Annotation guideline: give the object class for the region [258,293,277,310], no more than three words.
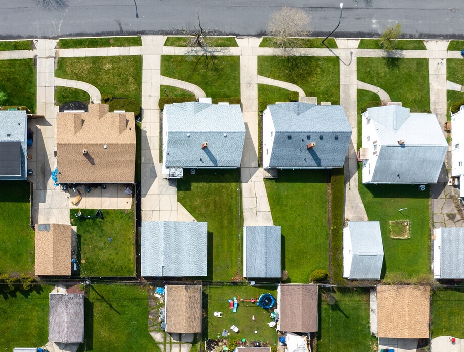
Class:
trampoline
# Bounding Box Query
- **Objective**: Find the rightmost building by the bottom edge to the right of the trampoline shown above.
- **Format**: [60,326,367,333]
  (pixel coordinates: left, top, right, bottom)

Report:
[371,286,430,339]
